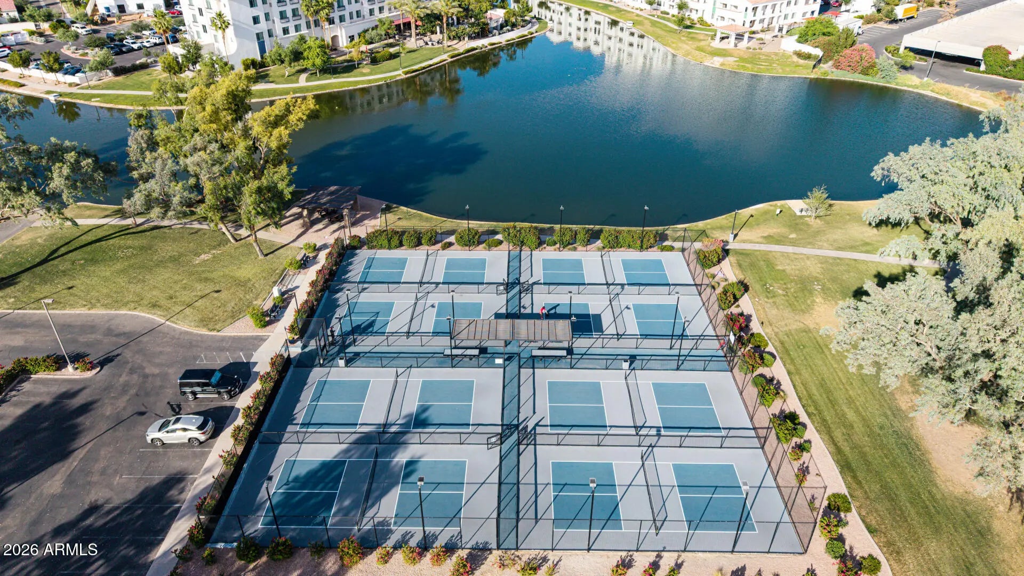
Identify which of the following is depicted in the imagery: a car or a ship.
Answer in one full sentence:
Of the two, only a car appears.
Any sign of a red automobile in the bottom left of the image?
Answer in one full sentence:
No, in the bottom left of the image there is no red automobile.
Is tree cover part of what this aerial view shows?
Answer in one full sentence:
Yes, some tree cover is visible.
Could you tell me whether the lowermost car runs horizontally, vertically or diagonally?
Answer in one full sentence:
What the image shows is the lowermost car lying horizontally.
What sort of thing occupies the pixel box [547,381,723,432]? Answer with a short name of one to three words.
sports court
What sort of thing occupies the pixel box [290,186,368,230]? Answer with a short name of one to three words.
building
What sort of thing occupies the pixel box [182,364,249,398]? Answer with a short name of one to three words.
car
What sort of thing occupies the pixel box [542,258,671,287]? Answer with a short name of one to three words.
sports court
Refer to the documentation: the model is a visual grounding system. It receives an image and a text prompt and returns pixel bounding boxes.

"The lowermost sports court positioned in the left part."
[259,459,467,528]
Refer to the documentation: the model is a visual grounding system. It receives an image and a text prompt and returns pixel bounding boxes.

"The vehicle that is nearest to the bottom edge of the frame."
[145,411,219,443]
